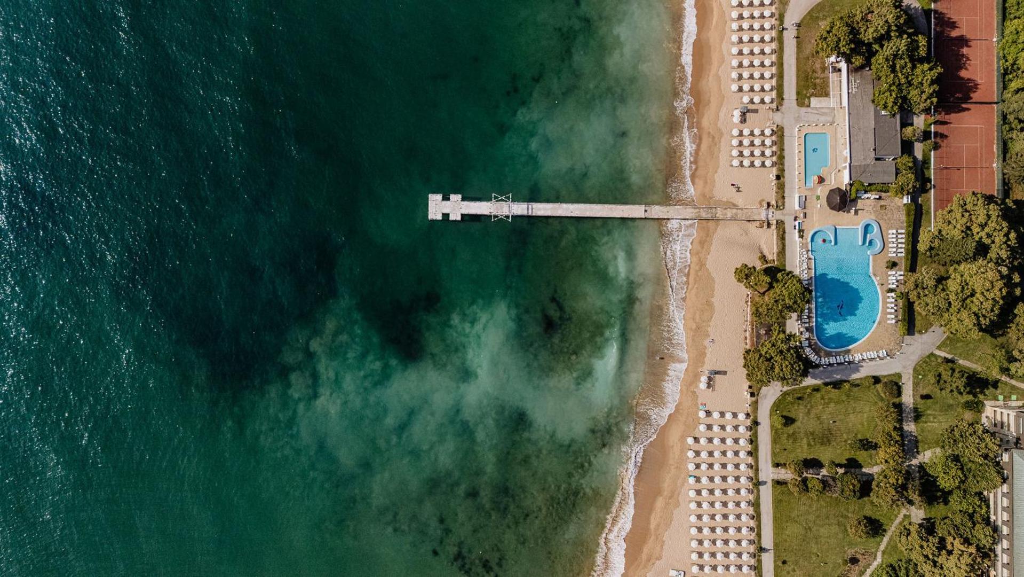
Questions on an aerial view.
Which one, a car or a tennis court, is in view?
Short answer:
tennis court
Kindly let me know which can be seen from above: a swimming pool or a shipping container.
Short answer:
swimming pool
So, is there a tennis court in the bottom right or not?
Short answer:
No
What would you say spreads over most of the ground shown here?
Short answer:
water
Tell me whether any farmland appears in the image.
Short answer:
No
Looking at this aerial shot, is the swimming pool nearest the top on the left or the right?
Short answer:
right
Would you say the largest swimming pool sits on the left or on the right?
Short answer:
right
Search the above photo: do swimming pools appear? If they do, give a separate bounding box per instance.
[810,225,882,350]
[804,132,831,188]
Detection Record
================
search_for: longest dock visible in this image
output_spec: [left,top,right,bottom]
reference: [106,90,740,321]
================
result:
[428,193,767,223]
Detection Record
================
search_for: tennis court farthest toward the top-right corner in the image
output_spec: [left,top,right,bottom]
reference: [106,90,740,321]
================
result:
[934,0,996,102]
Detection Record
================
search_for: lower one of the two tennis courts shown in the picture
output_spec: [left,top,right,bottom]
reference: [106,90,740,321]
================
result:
[934,103,996,235]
